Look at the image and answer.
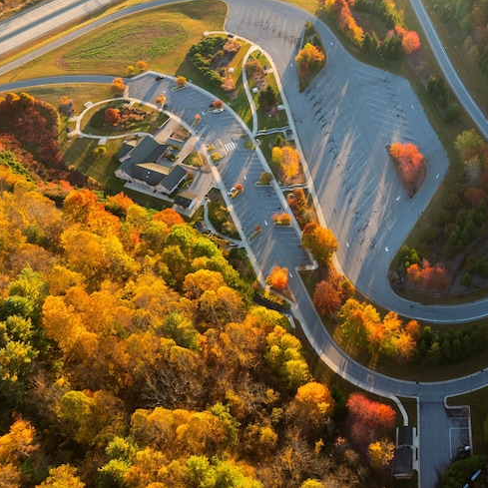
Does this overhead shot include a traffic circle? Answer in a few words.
No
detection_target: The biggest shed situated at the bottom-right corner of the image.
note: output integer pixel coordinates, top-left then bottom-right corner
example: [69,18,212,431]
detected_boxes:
[392,438,414,457]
